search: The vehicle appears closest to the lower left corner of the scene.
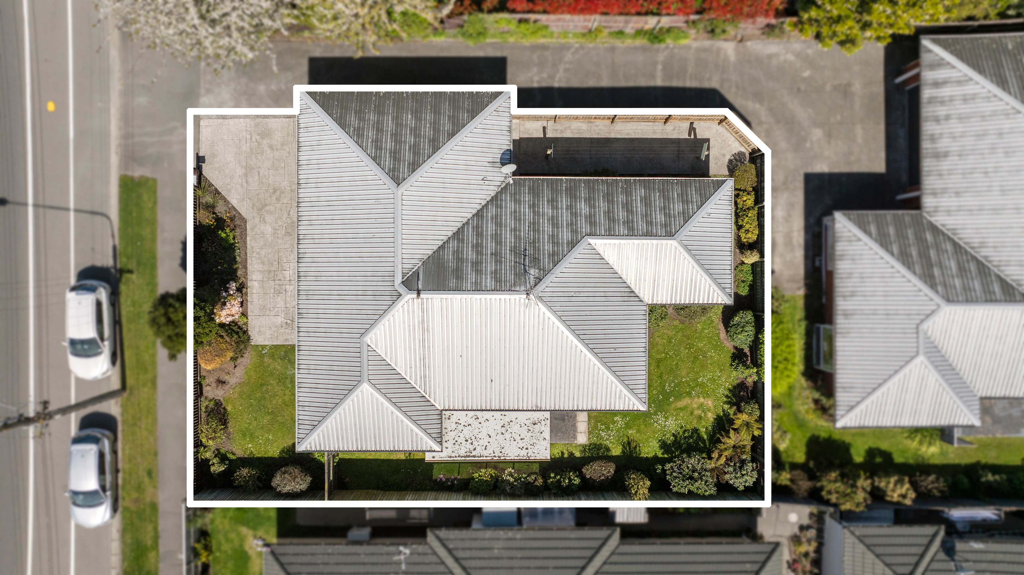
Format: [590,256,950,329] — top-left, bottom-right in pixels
[66,427,121,525]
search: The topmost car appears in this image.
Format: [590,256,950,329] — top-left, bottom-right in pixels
[63,280,119,379]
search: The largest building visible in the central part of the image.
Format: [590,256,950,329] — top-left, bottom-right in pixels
[293,84,737,455]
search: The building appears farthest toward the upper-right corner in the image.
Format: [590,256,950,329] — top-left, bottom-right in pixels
[813,33,1024,430]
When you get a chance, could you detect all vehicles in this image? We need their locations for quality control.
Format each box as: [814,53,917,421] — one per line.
[66,427,121,525]
[63,280,119,379]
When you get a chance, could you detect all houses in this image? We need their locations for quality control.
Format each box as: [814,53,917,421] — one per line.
[817,508,1024,575]
[262,519,786,575]
[293,84,737,455]
[813,33,1024,430]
